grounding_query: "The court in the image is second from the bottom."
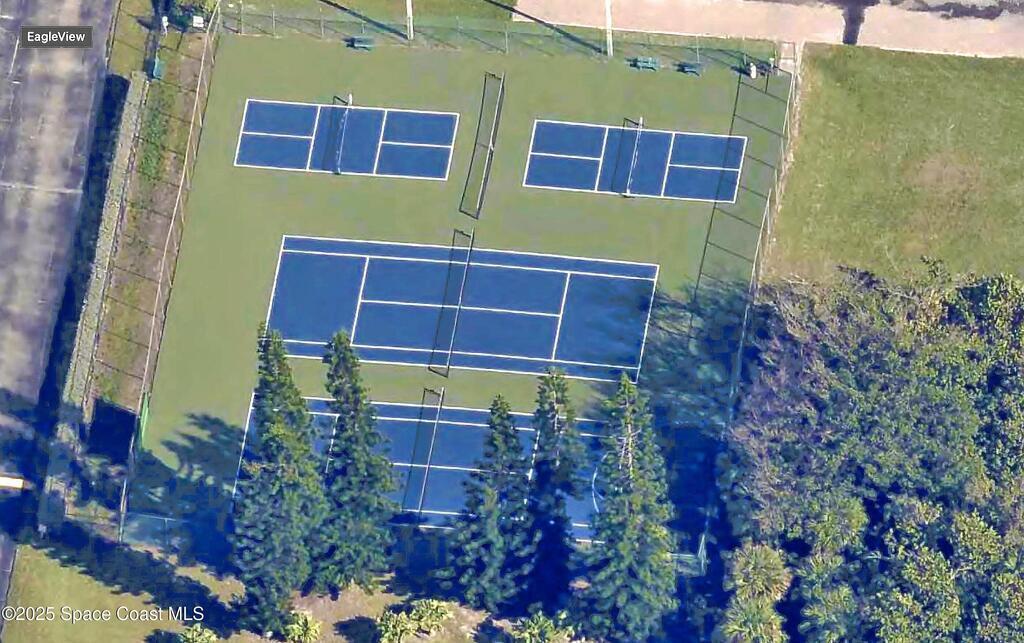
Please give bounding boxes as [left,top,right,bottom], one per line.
[262,235,659,383]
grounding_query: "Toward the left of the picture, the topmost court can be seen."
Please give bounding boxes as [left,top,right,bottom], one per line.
[235,99,459,180]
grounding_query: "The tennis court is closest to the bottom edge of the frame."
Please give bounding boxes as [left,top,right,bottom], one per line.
[230,392,630,540]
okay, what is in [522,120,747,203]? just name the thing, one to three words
sports court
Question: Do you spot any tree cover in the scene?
Yes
